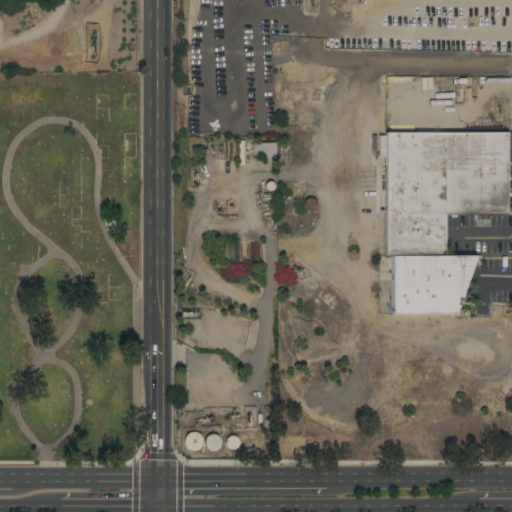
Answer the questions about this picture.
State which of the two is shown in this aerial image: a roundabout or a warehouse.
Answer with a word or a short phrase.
warehouse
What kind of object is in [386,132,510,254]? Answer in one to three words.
warehouse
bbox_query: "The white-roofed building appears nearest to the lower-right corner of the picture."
[391,256,480,314]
